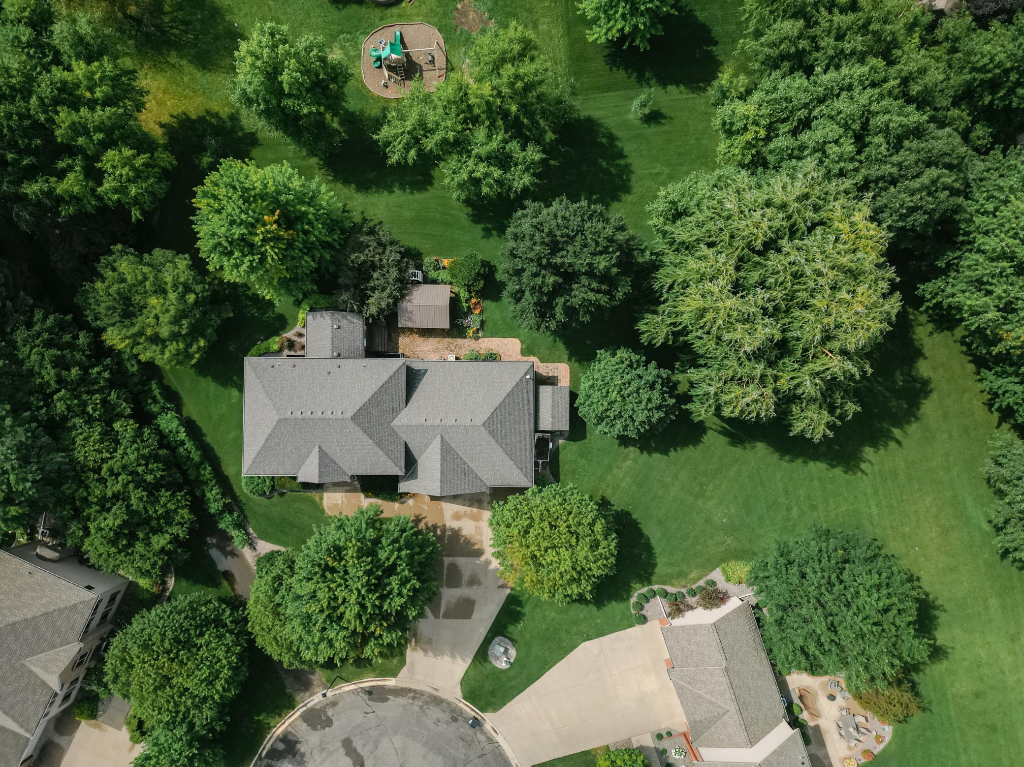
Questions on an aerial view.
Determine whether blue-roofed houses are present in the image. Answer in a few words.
No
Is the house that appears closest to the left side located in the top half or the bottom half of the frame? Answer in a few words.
bottom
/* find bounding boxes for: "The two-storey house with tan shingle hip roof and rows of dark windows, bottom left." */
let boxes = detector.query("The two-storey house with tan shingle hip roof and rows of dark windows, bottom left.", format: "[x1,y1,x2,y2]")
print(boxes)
[0,525,125,767]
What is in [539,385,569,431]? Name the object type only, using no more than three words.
shed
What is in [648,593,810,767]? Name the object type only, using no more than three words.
house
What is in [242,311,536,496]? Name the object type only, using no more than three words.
house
